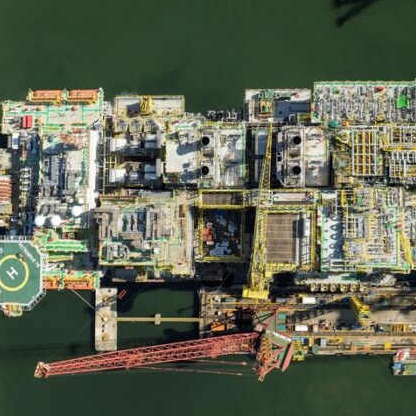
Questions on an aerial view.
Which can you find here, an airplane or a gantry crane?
gantry crane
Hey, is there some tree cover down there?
No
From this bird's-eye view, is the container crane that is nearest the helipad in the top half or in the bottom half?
bottom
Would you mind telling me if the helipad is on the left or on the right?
left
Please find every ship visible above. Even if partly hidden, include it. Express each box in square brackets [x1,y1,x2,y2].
[393,348,416,376]
[0,80,416,291]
